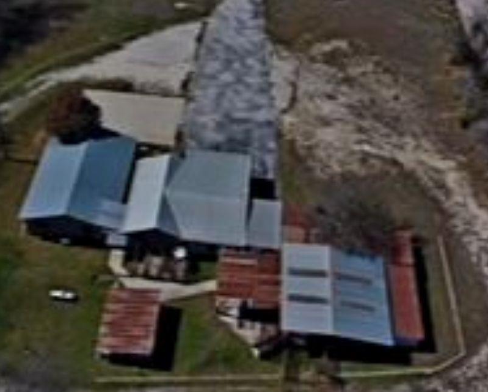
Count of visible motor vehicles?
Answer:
0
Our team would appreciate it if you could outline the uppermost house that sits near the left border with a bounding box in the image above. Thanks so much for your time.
[17,130,141,268]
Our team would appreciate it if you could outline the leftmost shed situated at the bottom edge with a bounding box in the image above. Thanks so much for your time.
[93,287,162,375]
